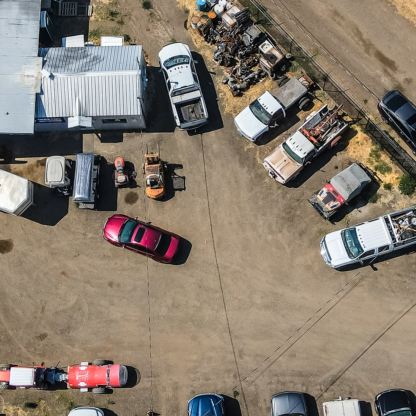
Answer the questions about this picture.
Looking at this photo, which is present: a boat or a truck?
truck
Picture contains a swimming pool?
No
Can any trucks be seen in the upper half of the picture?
Yes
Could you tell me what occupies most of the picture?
paved ground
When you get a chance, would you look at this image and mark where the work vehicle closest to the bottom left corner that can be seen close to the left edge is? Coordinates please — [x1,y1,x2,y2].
[0,362,56,393]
